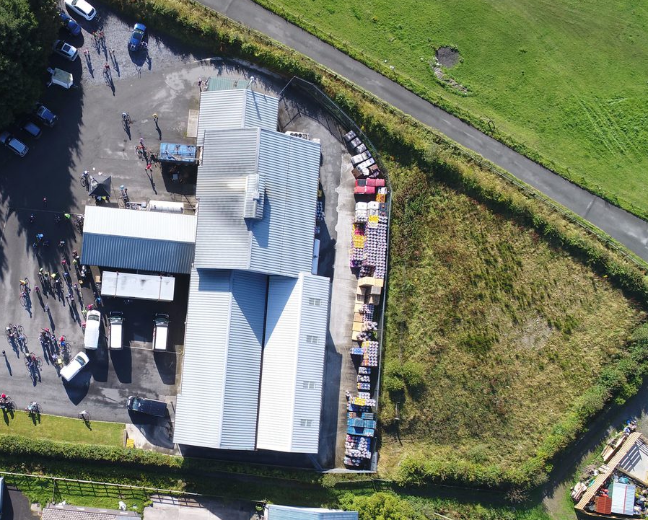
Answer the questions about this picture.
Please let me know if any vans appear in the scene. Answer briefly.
Yes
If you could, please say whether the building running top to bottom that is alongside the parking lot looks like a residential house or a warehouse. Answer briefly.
warehouse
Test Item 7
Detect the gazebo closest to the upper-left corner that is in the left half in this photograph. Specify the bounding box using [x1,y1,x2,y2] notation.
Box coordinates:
[88,174,112,197]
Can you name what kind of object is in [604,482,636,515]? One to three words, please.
shed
